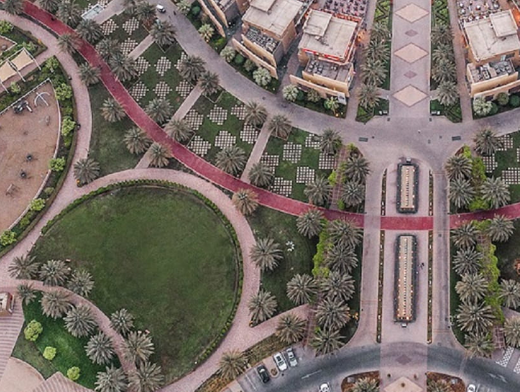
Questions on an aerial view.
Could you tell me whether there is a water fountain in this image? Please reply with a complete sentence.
Yes, I can see a water fountain in this picture.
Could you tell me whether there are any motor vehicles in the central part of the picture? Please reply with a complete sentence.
No, looking in the central part of the picture, there is no motor vehicle.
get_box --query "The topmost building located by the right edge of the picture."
[465,10,520,96]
